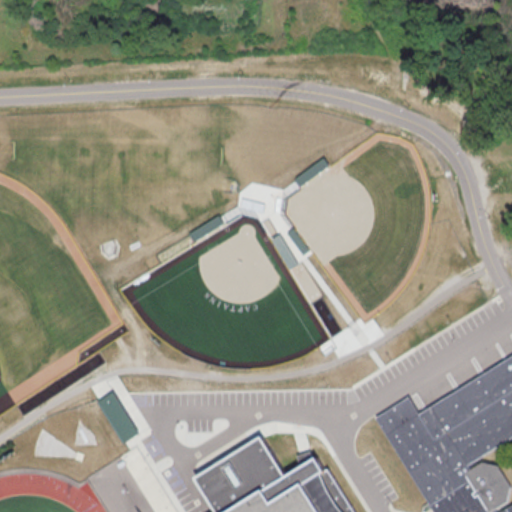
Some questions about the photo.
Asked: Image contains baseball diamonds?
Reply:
Yes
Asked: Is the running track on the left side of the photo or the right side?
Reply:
left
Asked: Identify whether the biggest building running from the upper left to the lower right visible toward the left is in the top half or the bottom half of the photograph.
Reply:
bottom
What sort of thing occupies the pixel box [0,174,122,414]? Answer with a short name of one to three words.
baseball field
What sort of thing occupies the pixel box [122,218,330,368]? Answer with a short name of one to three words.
baseball field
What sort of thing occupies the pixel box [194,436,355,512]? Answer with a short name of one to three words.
building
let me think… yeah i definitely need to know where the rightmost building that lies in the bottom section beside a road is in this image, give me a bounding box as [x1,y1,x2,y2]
[376,355,512,512]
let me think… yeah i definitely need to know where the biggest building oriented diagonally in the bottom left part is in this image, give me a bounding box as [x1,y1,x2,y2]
[100,390,138,442]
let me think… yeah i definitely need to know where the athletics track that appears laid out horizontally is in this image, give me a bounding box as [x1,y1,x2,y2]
[0,468,106,512]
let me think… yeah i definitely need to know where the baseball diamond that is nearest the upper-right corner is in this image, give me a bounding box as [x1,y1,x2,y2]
[286,132,432,322]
